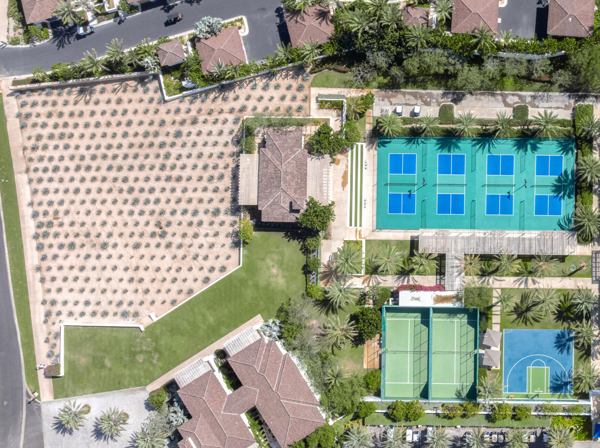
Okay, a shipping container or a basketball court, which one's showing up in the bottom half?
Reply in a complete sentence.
You can see a basketball court in the bottom half.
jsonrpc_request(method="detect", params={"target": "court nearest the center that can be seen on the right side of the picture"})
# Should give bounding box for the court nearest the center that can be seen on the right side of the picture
[376,138,424,229]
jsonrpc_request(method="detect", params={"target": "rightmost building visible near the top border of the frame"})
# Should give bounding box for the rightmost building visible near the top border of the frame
[547,0,595,38]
